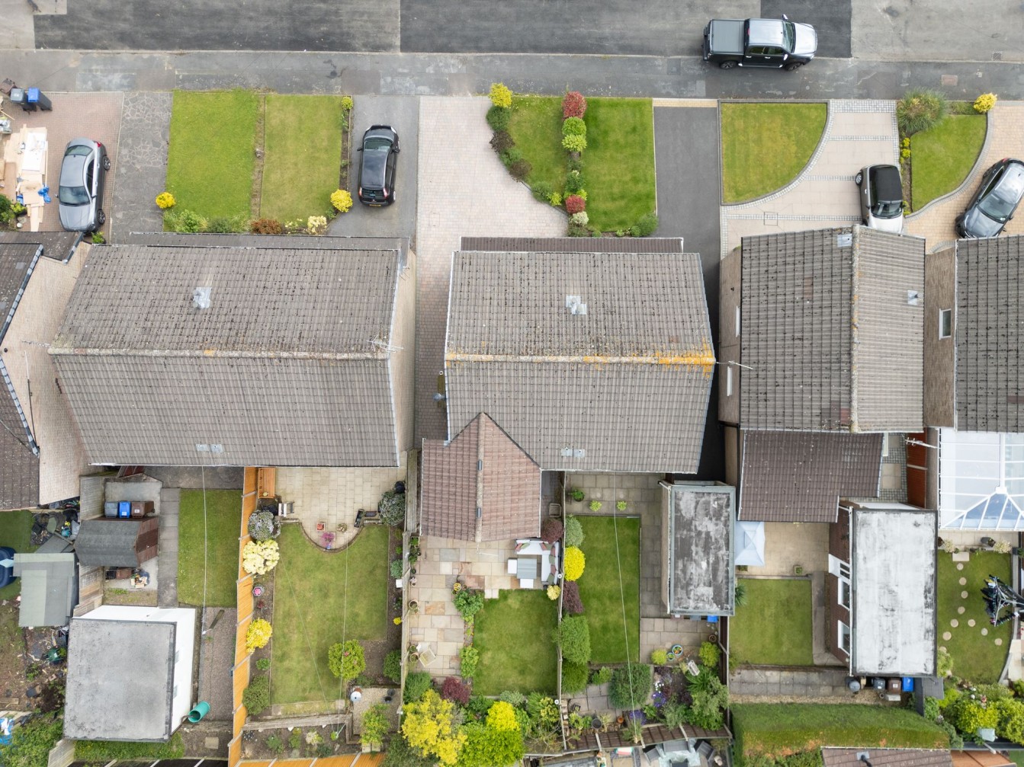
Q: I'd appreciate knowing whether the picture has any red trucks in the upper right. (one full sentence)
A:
No, looking in the upper right, there is no red truck.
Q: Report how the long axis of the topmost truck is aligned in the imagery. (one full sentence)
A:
In this picture, the topmost truck is oriented horizontally.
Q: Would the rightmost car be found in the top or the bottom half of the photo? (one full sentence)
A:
The rightmost car sits in the top half of the picture.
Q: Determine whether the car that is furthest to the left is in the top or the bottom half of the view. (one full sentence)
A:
The car that is furthest to the left sits in the top half of the picture.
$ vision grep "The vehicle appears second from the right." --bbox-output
[857,160,911,231]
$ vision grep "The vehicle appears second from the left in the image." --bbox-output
[356,125,402,210]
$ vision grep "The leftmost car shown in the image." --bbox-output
[52,137,112,238]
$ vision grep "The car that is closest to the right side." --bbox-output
[947,151,1024,240]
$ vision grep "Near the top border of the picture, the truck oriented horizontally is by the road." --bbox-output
[697,13,817,70]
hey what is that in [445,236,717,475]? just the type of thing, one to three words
house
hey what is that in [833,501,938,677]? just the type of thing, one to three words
shed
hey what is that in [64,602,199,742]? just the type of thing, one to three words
building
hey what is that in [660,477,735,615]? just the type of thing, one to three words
building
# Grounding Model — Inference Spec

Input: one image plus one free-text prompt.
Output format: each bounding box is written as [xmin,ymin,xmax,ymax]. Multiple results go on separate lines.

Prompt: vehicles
[857,160,911,231]
[697,13,817,70]
[52,137,112,238]
[356,125,402,210]
[947,151,1024,240]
